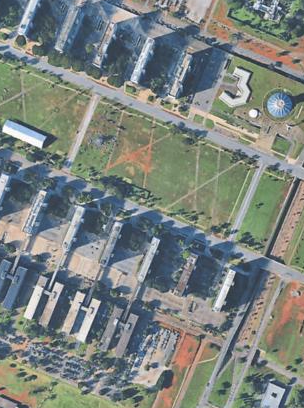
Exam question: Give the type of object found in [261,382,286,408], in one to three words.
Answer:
building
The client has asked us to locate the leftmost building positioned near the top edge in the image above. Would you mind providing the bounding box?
[19,0,45,38]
